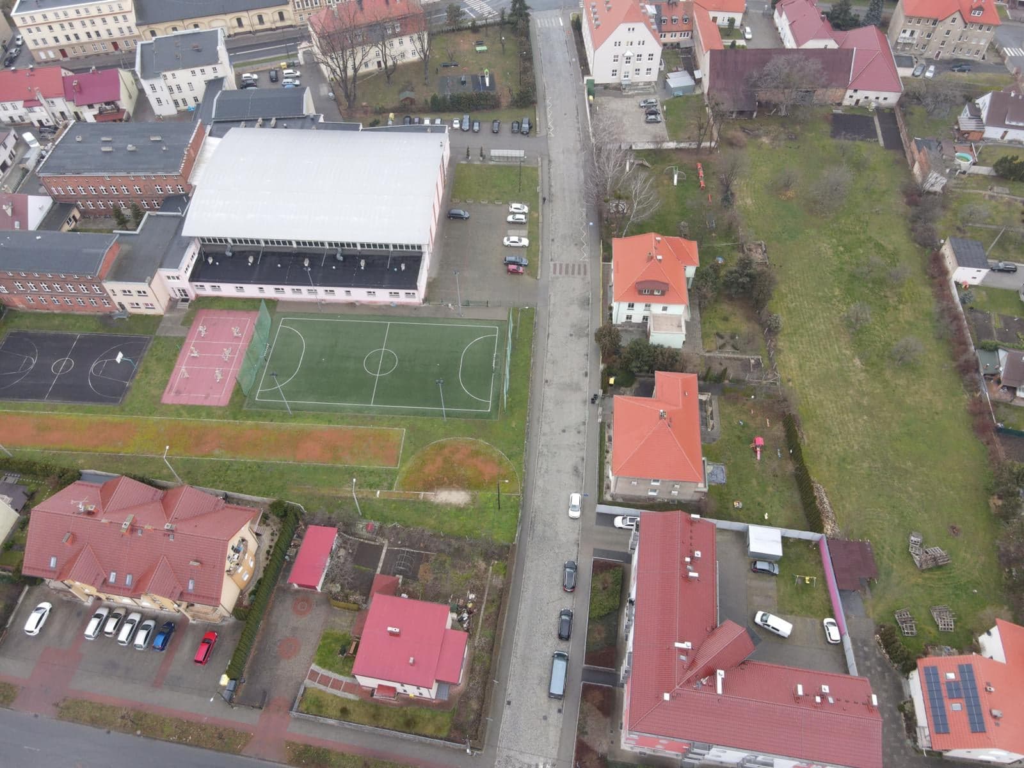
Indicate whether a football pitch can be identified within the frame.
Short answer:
Yes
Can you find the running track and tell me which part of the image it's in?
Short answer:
left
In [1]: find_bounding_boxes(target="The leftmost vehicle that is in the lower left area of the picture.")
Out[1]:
[21,604,54,635]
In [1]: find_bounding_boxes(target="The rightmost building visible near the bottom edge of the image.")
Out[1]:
[898,611,1024,757]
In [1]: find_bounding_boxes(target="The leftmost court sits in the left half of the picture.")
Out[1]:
[0,329,154,405]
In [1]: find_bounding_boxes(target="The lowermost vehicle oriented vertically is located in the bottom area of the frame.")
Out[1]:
[550,651,568,696]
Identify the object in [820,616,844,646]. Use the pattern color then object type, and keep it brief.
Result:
white car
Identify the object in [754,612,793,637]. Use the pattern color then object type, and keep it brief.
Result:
white vehicle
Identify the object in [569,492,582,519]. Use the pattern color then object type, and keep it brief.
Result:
white vehicle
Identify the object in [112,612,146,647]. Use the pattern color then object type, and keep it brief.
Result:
white car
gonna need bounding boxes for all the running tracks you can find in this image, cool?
[0,411,405,467]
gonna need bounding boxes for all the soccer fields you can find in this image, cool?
[245,311,510,420]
